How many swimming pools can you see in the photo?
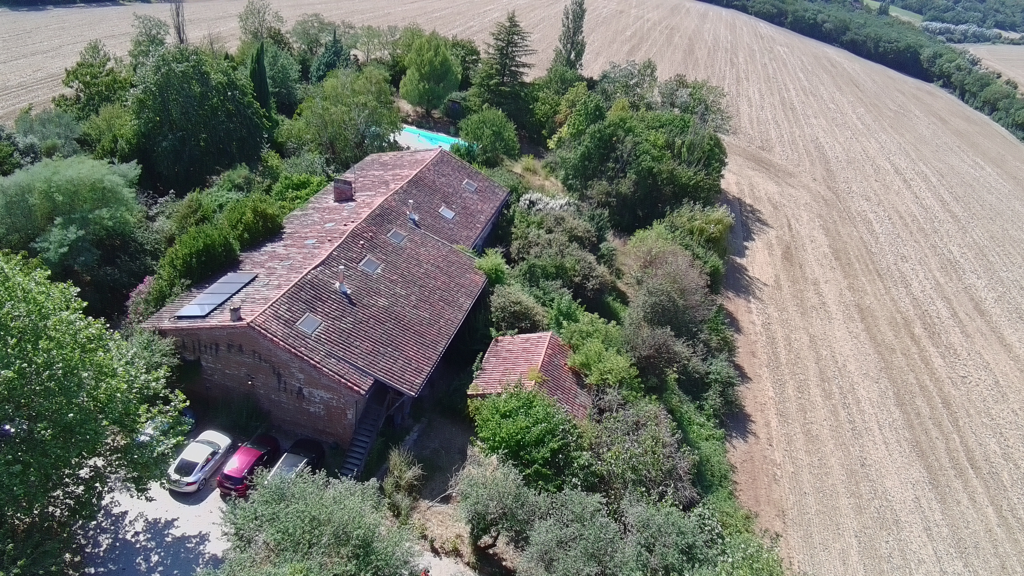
one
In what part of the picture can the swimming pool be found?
top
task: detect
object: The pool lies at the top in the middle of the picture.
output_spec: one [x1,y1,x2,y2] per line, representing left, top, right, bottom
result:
[377,118,503,168]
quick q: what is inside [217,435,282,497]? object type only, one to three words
car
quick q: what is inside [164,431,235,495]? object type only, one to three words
car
